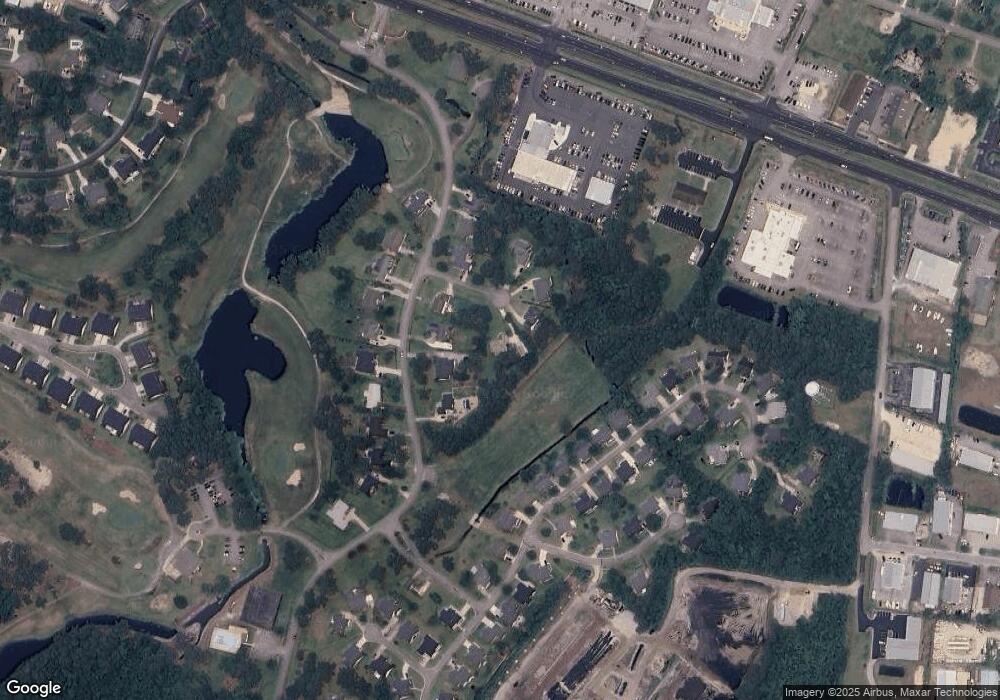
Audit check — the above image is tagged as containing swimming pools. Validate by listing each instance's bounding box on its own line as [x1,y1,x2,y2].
[69,40,83,50]
[209,627,240,653]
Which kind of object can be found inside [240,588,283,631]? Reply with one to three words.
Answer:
shed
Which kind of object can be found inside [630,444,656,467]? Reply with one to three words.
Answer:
house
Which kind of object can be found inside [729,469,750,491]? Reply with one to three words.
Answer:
house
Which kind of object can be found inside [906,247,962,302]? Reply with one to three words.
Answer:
building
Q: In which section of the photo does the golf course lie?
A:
left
